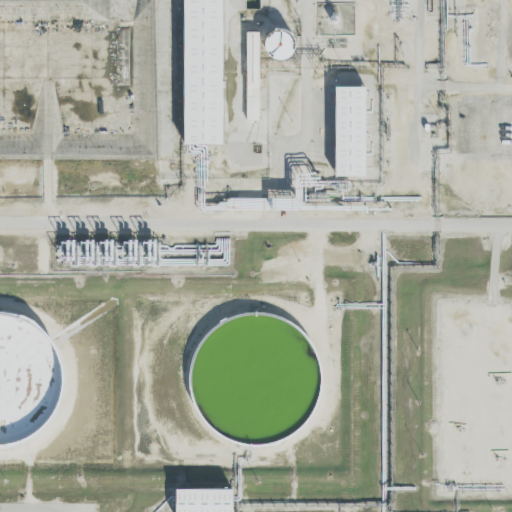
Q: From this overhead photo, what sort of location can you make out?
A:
industrial area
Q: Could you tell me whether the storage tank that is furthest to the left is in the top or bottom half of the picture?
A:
bottom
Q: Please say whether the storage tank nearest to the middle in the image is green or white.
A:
green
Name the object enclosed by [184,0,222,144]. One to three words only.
building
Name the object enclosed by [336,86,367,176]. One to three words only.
building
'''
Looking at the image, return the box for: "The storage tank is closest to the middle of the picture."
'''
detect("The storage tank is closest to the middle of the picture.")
[189,312,322,445]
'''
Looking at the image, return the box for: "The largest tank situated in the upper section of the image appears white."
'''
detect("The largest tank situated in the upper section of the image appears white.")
[265,28,297,60]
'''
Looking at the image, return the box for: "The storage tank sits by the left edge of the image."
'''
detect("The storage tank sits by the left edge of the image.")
[0,312,62,446]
